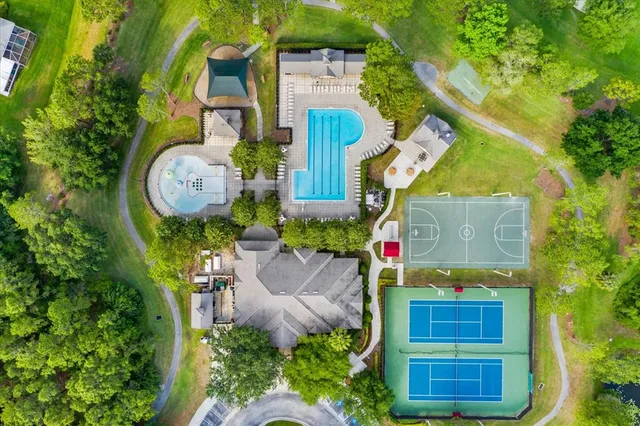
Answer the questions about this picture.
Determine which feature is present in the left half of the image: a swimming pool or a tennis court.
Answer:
swimming pool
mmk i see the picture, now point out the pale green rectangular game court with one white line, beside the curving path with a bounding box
[447,59,491,105]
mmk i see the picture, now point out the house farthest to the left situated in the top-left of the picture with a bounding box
[0,19,42,97]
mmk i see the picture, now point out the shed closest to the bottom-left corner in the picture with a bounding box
[191,292,214,330]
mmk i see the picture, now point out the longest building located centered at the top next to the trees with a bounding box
[279,46,366,82]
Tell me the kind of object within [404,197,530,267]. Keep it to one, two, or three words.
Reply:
basketball court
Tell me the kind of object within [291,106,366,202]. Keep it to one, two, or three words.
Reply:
swimming pool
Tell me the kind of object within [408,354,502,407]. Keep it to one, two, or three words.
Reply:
tennis court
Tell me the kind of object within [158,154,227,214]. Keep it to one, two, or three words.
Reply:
swimming pool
